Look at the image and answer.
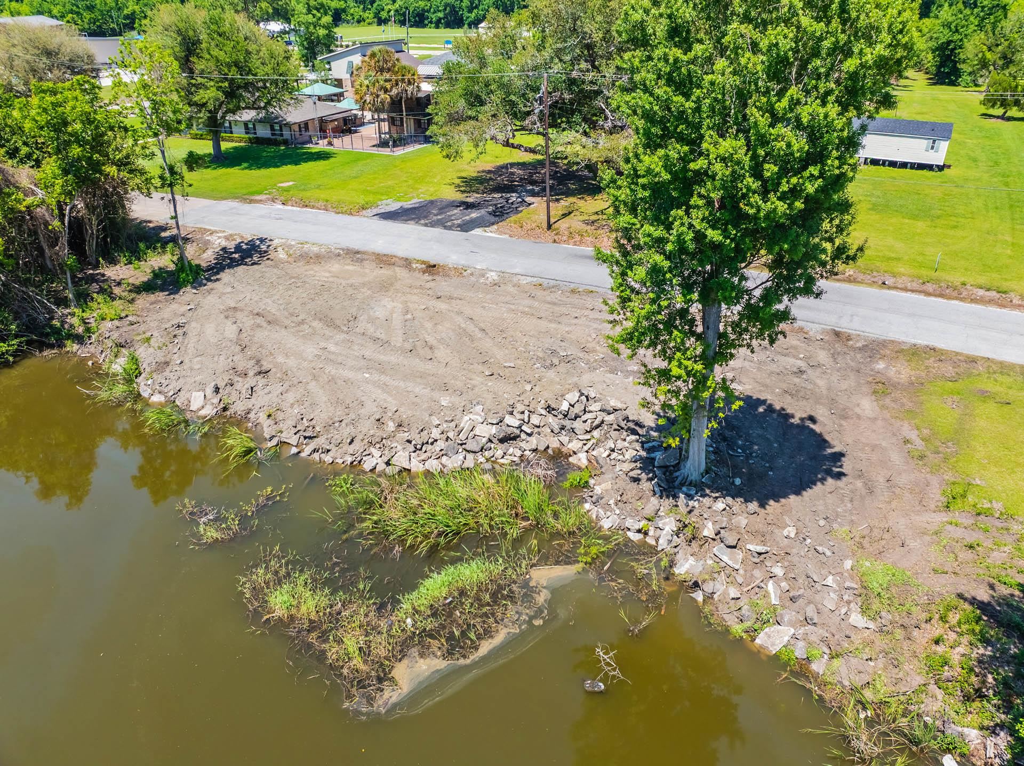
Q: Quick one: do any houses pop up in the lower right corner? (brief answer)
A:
No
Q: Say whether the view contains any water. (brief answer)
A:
Yes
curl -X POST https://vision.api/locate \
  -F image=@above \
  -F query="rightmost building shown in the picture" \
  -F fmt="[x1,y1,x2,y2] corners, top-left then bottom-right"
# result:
[859,114,956,171]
